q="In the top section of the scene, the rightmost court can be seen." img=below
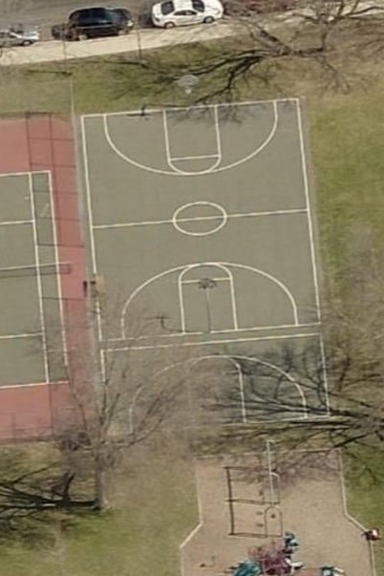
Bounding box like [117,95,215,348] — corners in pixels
[79,96,324,346]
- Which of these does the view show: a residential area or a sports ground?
sports ground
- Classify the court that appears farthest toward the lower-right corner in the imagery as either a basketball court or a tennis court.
basketball court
